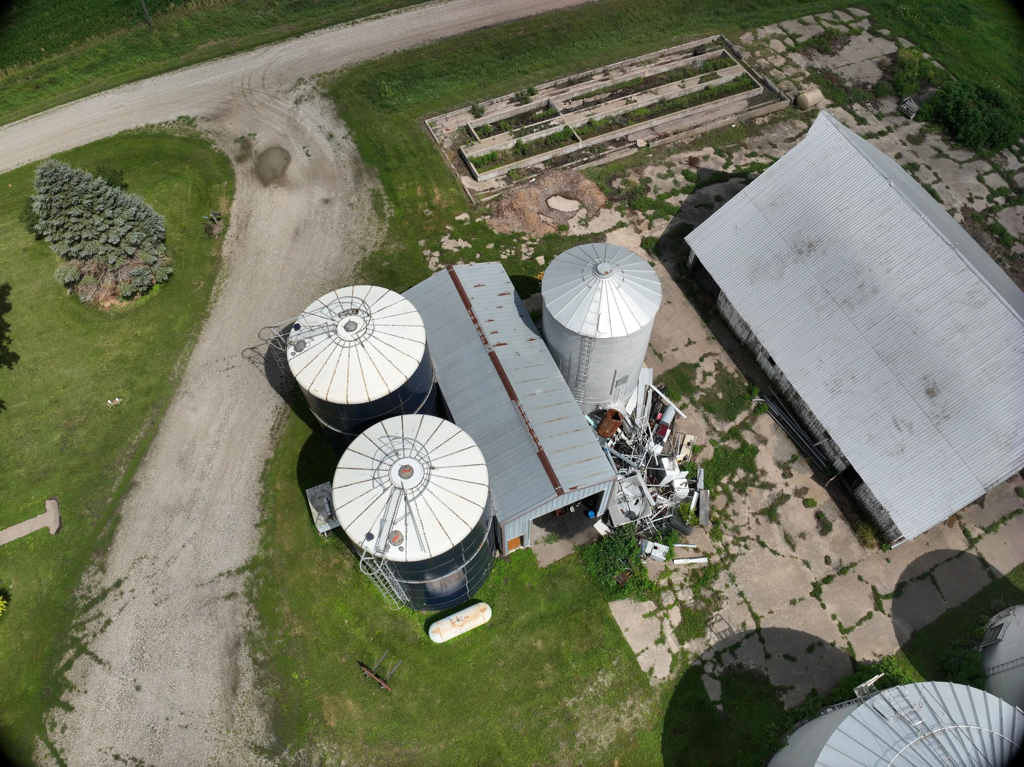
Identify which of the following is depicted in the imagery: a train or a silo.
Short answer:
silo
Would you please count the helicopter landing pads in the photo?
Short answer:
0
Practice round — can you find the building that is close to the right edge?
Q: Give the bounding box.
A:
[683,99,1024,551]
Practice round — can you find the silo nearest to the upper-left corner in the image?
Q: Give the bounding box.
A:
[255,286,442,462]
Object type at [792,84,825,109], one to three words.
water tank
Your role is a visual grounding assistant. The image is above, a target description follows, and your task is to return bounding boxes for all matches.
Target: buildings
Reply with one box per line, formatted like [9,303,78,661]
[399,259,621,559]
[683,99,1024,551]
